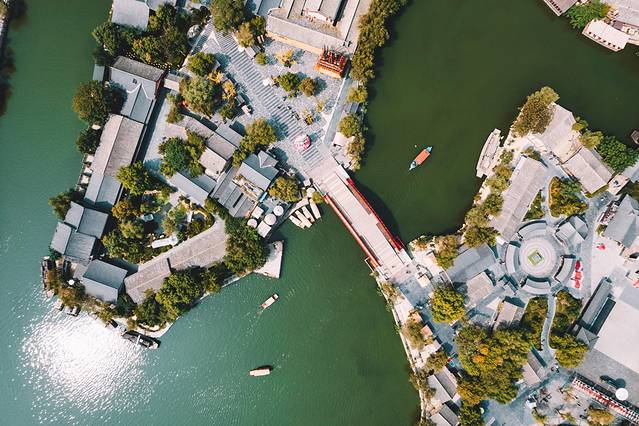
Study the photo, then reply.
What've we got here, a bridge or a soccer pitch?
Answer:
bridge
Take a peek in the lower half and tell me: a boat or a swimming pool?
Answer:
boat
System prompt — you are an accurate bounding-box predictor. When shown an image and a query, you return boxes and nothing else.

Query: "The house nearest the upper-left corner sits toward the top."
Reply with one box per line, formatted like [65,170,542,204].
[112,0,160,34]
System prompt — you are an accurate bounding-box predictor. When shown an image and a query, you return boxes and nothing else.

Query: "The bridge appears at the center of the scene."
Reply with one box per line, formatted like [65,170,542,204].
[316,167,411,279]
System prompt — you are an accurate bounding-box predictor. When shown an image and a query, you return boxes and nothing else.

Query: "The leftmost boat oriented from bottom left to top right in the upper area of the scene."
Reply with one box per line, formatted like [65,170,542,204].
[407,147,432,170]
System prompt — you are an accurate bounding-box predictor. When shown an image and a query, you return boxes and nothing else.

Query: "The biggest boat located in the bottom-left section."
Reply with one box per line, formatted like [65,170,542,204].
[119,329,163,352]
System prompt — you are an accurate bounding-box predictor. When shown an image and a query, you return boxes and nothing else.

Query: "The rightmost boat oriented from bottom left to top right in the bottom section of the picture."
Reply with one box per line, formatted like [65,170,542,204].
[261,294,278,309]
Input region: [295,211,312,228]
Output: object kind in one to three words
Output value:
boat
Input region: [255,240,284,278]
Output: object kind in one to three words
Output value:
pier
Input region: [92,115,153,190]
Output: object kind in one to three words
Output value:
building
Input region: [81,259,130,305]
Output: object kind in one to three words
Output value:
house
